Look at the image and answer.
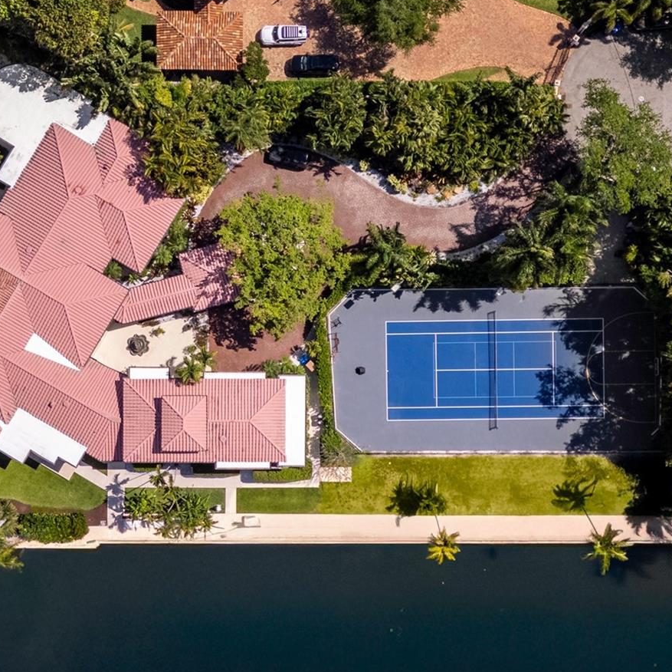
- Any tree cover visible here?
Yes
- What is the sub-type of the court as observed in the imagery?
tennis court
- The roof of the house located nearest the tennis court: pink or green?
pink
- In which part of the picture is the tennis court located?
right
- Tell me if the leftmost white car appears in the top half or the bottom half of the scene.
top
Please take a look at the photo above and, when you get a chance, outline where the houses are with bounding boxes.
[0,65,305,470]
[155,0,244,78]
